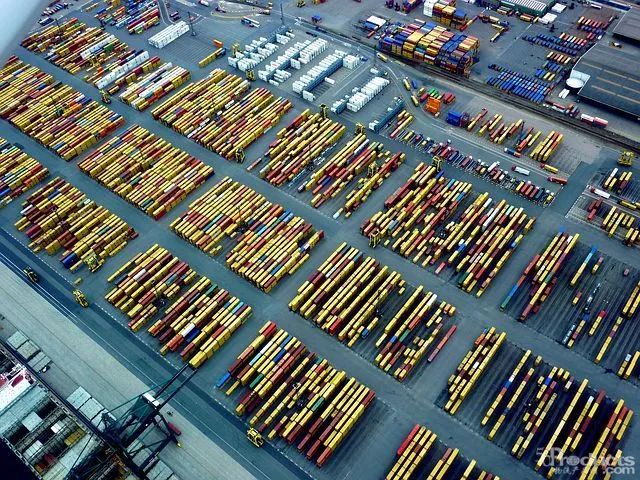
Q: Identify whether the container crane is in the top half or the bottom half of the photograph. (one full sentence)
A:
The container crane is in the bottom half of the image.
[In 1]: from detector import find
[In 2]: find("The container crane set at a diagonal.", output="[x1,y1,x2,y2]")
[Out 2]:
[52,362,199,480]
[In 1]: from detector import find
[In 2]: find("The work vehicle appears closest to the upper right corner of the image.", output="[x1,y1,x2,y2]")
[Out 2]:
[618,148,634,166]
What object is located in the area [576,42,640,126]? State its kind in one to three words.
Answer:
building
